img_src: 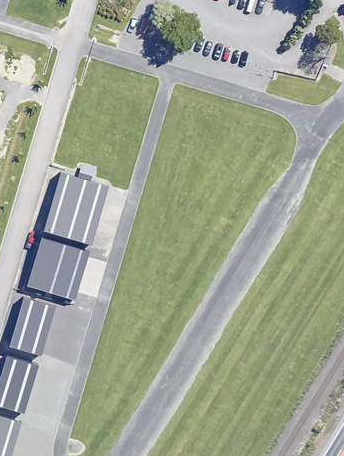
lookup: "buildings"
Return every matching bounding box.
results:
[8,297,56,356]
[44,172,109,246]
[0,355,39,414]
[27,238,90,300]
[0,414,22,456]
